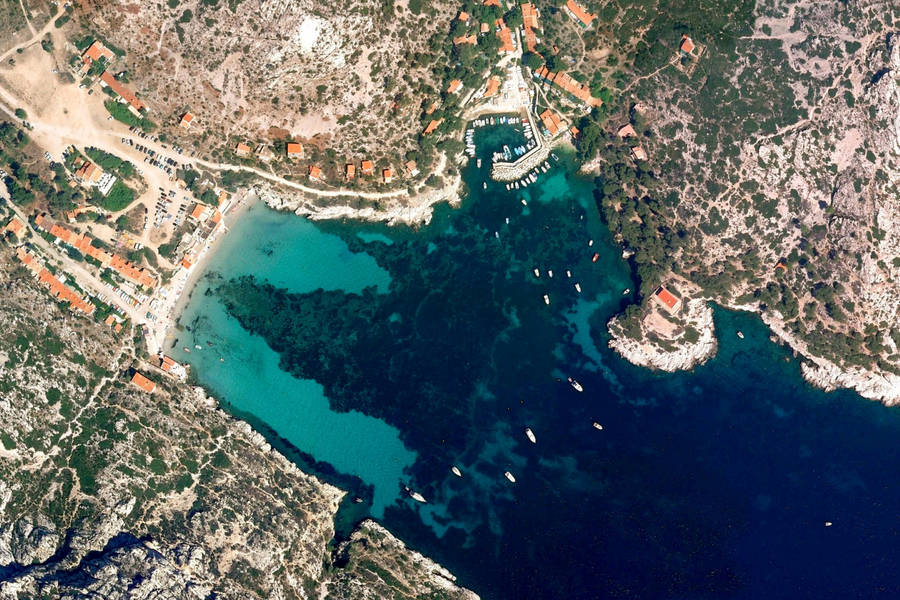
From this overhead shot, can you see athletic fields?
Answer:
No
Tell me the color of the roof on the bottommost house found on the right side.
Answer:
red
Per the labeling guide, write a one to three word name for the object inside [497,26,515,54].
house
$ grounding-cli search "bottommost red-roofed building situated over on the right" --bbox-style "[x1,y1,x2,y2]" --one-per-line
[654,286,682,311]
